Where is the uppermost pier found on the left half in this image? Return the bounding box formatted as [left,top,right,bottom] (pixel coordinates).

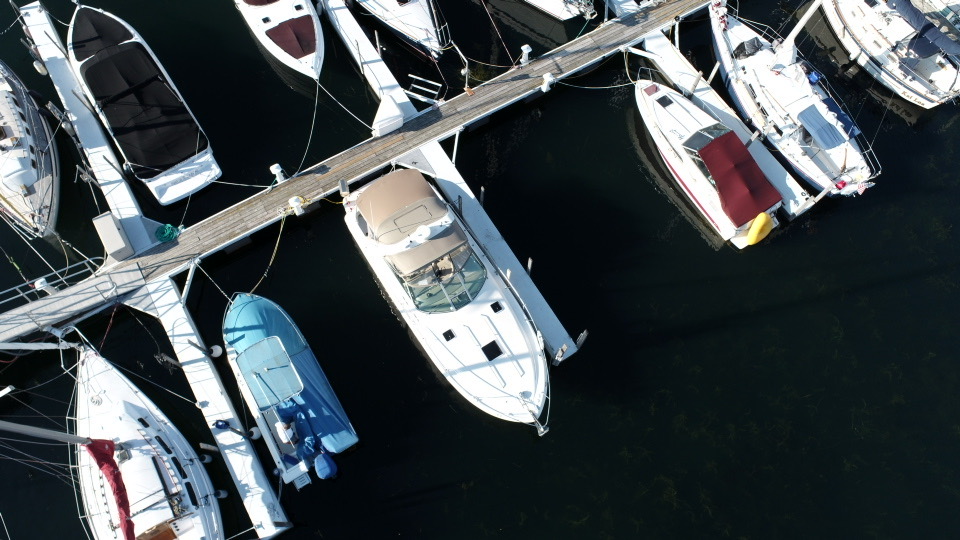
[322,0,418,121]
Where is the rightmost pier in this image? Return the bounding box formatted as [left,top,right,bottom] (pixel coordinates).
[640,32,818,219]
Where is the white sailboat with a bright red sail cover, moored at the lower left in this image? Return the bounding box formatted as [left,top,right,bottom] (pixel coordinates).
[0,329,237,540]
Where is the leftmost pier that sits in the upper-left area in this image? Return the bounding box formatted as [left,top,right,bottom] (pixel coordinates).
[20,1,153,258]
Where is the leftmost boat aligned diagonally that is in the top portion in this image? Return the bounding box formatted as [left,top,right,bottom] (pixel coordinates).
[68,0,224,214]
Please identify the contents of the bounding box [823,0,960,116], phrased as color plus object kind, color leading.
white boat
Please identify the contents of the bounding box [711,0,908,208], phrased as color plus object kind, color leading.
white boat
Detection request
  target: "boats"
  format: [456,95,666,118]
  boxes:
[68,0,224,214]
[823,0,960,116]
[906,0,960,56]
[340,157,552,437]
[0,329,237,540]
[524,0,593,34]
[231,0,323,81]
[362,0,444,55]
[639,64,792,251]
[711,0,908,208]
[0,57,68,240]
[224,286,358,490]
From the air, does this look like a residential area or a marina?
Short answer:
marina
